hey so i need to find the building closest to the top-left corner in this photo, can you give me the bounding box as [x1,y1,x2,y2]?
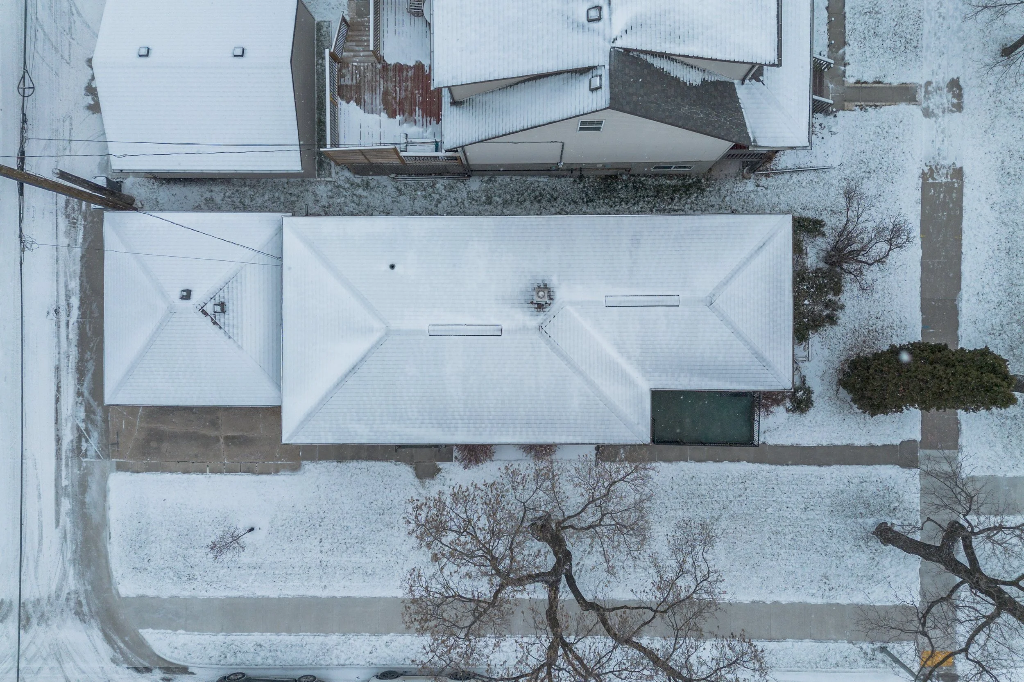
[92,0,316,179]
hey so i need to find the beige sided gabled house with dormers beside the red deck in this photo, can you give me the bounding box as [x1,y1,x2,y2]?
[430,0,835,178]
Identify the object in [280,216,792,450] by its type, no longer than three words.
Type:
house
